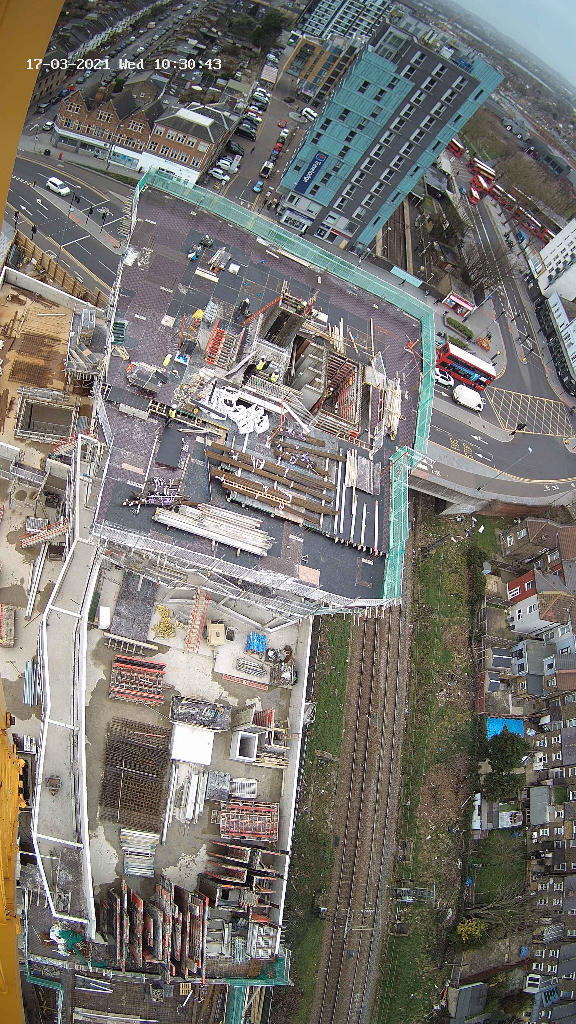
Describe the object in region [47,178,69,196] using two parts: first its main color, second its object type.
white car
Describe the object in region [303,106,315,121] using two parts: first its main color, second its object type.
white vehicle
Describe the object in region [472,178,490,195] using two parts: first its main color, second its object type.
red vehicle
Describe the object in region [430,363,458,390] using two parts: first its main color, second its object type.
white car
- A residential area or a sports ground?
residential area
